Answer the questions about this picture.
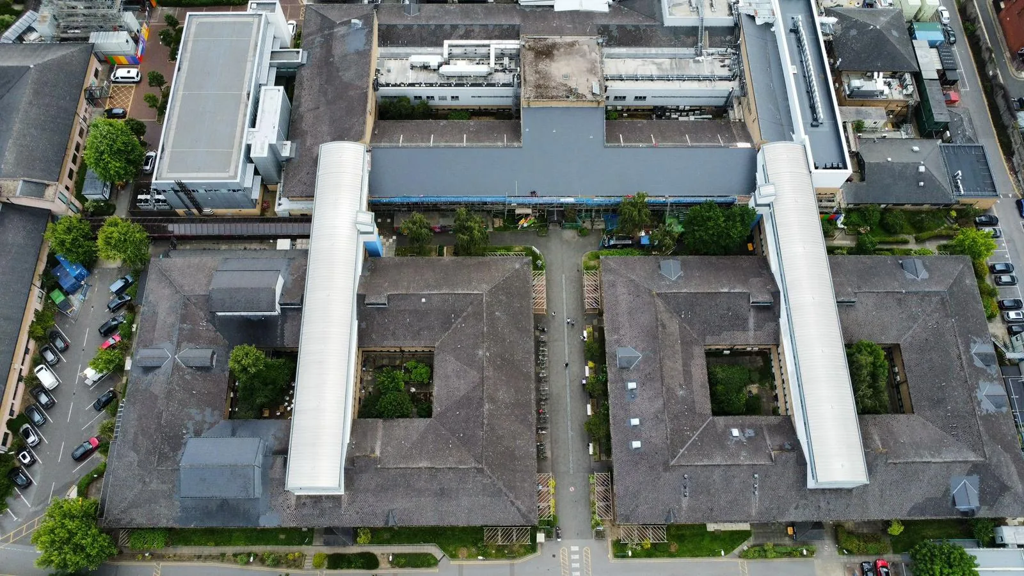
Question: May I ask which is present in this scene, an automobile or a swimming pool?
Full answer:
The one in the frame is an automobile.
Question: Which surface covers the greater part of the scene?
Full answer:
For the most part, this view shows buildings.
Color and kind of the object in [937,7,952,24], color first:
white car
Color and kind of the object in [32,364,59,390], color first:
white vehicle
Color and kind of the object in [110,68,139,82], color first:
white vehicle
